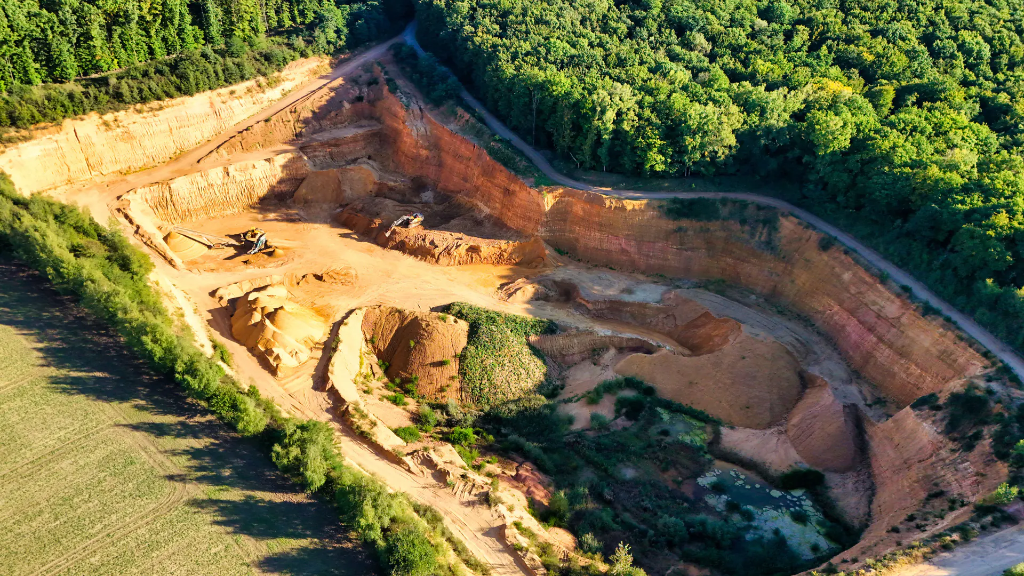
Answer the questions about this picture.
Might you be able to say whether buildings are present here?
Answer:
No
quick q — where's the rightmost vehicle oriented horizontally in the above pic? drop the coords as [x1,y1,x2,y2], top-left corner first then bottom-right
[386,211,421,230]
